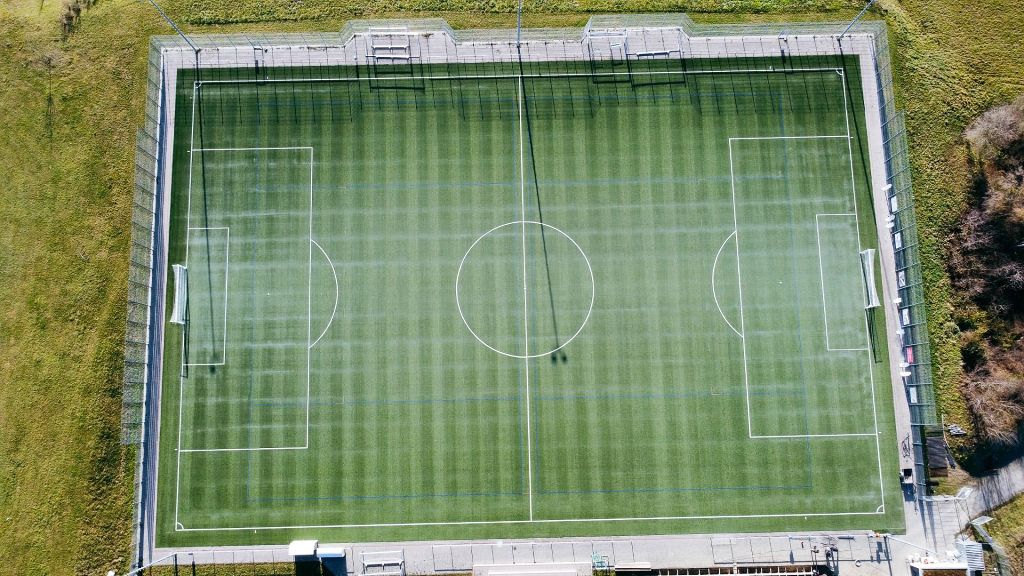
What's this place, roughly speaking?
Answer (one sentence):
What you see here is a sports ground.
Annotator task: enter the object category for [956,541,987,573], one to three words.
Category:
shed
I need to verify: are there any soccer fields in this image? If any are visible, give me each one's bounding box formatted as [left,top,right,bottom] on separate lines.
[155,55,905,548]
